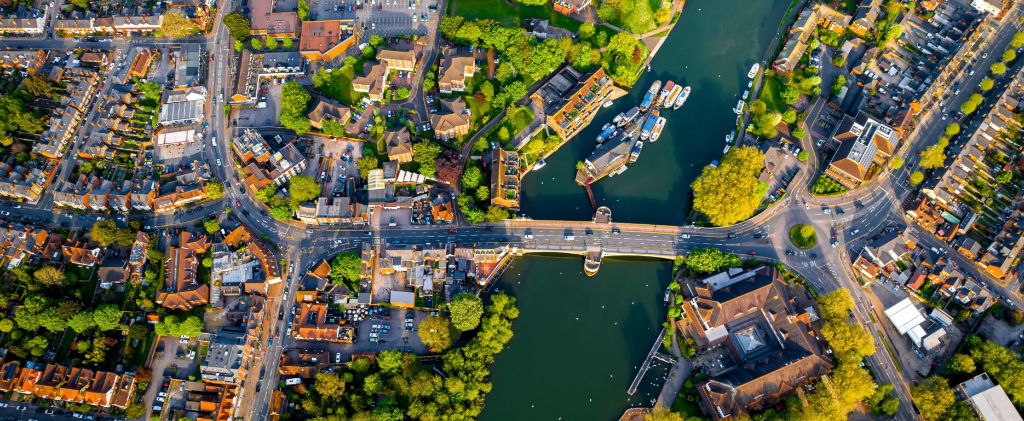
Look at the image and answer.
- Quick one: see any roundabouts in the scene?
Yes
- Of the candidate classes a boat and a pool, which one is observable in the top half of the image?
boat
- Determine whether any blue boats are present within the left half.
No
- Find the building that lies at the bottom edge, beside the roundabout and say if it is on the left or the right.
right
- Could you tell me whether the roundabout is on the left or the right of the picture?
right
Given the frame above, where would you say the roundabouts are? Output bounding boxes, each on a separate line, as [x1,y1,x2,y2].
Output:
[771,207,837,267]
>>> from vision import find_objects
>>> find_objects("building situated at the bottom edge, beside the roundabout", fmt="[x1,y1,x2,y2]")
[674,266,832,421]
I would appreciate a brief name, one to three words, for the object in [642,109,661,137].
boat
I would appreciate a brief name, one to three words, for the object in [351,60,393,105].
building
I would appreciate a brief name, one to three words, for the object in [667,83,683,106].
boat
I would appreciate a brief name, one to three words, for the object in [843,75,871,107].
shed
